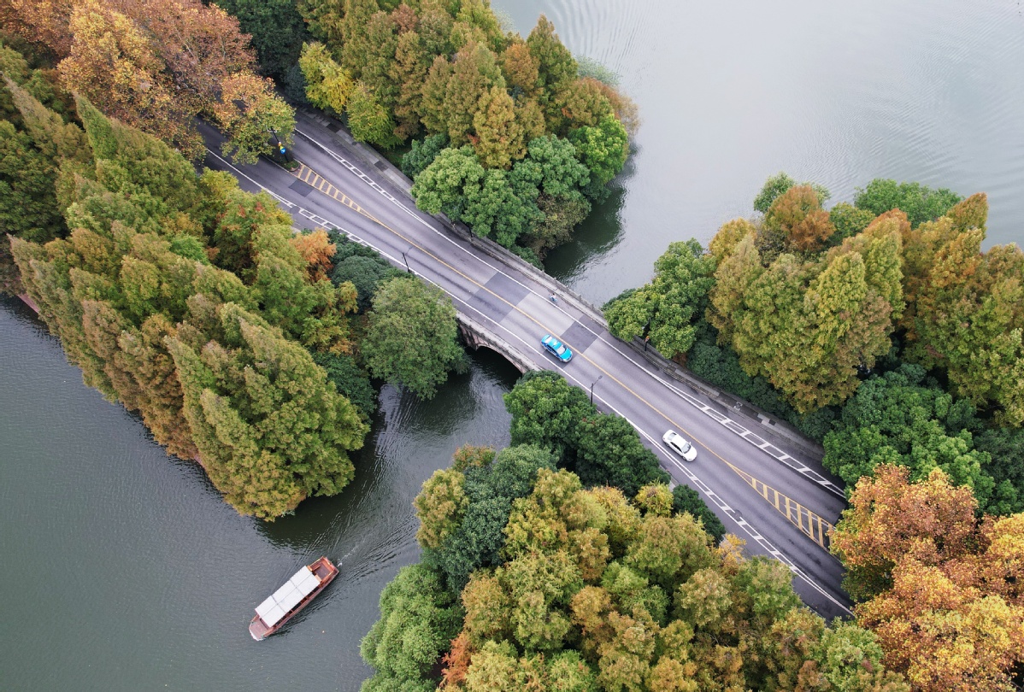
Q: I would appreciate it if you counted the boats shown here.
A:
1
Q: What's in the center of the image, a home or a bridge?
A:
bridge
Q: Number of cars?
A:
2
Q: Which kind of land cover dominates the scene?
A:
trees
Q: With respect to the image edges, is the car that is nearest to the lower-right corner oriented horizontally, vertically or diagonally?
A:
diagonally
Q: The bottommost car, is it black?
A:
No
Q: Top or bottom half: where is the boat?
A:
bottom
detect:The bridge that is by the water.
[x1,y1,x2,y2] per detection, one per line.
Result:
[430,203,648,392]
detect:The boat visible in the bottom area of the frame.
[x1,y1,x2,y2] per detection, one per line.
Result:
[248,556,340,642]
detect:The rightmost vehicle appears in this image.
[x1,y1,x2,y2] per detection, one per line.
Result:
[659,426,699,463]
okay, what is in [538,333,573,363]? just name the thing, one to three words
car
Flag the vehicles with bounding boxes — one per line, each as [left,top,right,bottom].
[538,333,573,363]
[659,426,699,463]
